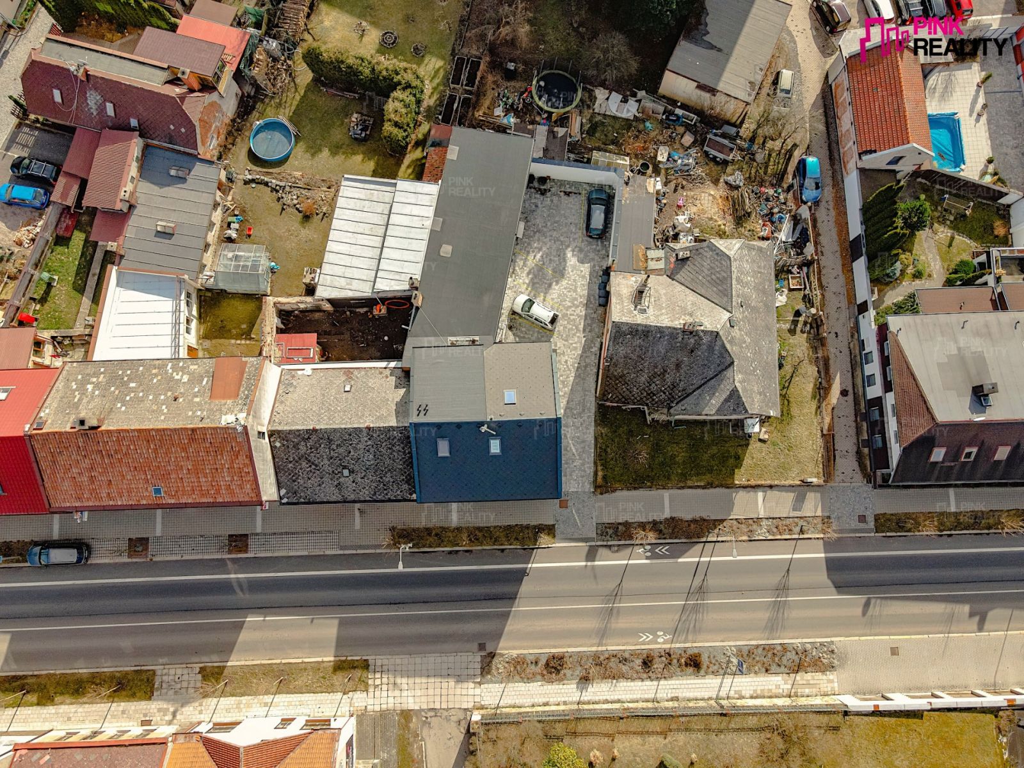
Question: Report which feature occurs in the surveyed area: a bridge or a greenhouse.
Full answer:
I can see a greenhouse in this picture.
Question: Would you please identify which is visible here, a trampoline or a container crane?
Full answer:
Visible in the photo is a trampoline.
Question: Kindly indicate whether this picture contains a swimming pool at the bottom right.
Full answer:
No, no swimming pool is visible at the bottom right.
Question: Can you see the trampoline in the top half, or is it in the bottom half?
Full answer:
The trampoline sits in the top half of the picture.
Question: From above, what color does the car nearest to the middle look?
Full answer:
In this view, the car nearest to the middle is white.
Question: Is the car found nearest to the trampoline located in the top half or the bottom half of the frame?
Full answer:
The car found nearest to the trampoline is in the top half of the image.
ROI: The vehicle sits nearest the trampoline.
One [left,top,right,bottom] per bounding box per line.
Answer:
[584,188,609,239]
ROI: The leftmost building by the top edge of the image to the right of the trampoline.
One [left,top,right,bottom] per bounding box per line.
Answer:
[661,0,793,122]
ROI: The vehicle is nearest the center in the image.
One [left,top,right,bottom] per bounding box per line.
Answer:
[509,291,563,332]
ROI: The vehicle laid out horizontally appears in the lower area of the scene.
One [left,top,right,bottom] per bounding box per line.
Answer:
[32,540,89,566]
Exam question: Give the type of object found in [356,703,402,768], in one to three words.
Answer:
shed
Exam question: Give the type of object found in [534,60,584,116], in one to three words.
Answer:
trampoline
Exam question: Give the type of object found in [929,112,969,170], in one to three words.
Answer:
swimming pool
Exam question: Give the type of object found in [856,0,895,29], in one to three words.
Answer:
car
